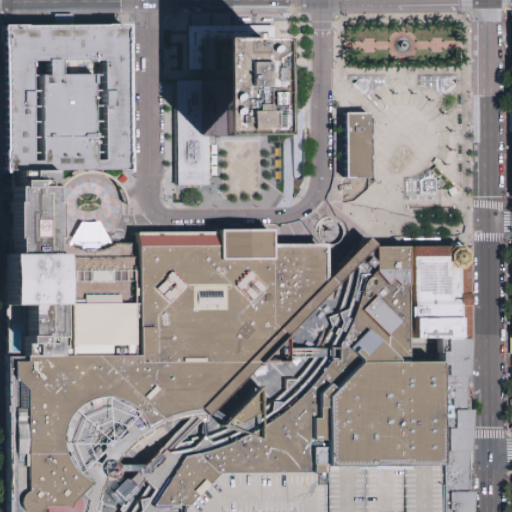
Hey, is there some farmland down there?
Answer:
No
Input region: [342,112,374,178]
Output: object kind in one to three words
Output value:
building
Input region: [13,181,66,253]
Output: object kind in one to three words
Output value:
building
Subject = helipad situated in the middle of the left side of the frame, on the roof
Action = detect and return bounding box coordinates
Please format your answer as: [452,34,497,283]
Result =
[40,220,53,238]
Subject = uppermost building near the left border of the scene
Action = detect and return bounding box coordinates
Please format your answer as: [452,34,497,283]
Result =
[3,23,134,171]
